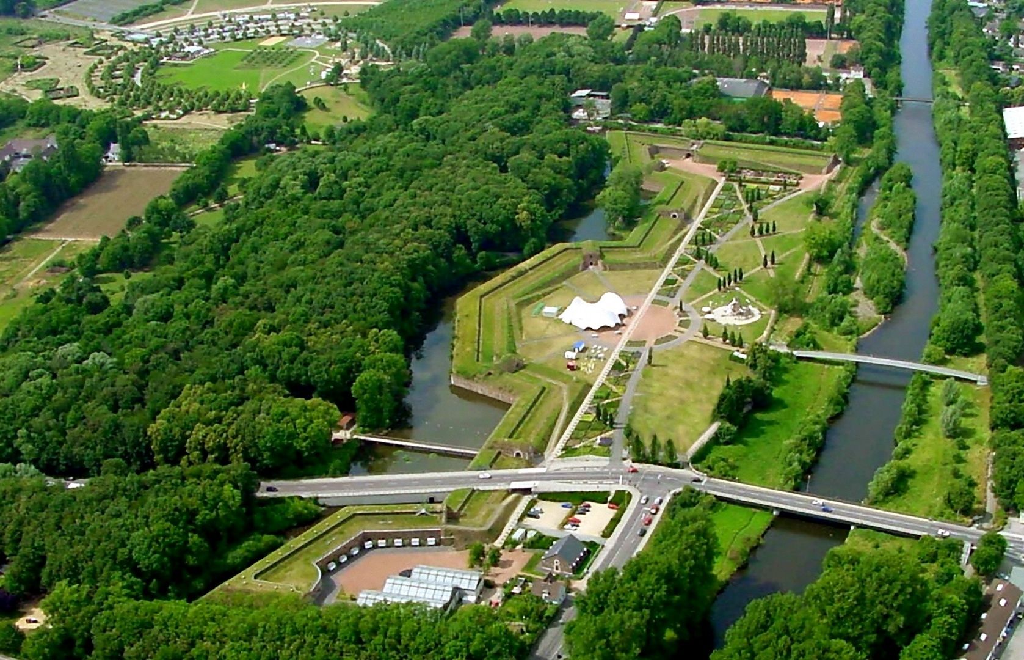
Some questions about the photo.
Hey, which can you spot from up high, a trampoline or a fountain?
fountain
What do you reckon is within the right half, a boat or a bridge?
bridge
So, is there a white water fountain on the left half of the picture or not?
No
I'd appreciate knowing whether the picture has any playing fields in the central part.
No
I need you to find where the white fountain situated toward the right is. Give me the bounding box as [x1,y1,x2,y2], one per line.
[712,296,759,325]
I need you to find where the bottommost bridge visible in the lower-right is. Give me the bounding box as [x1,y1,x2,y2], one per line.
[712,474,928,535]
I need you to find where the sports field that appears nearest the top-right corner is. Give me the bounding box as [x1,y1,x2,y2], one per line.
[696,9,831,38]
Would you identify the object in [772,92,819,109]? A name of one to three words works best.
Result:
tennis court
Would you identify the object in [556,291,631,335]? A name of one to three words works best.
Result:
tent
